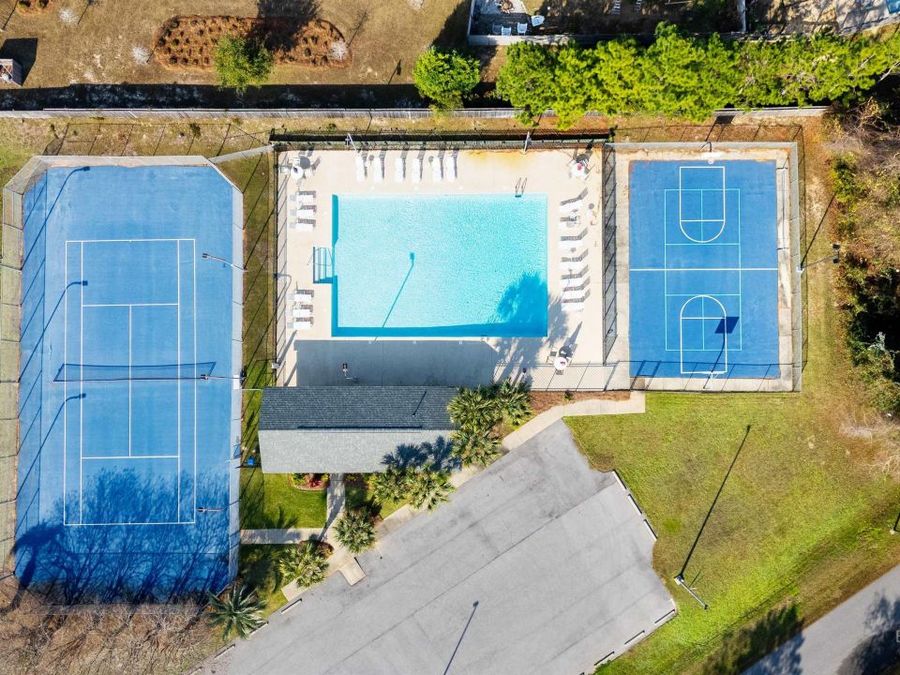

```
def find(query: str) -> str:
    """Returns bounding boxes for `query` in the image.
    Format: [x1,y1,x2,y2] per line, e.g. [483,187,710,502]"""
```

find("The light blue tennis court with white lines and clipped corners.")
[14,167,243,605]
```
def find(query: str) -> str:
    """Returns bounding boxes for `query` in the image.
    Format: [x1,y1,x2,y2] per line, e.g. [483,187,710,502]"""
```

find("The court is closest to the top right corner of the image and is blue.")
[604,149,792,392]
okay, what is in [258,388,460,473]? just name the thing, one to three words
building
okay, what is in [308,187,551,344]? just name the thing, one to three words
swimming pool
